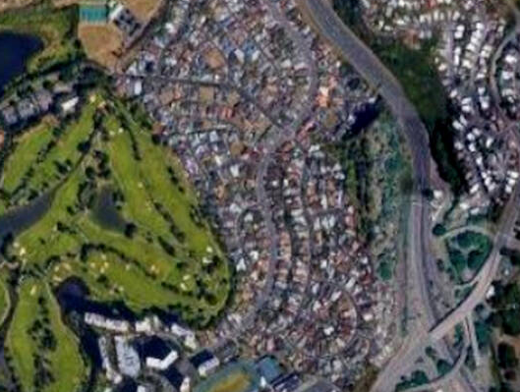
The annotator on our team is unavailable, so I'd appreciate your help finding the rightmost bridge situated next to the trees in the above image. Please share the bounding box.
[413,248,505,353]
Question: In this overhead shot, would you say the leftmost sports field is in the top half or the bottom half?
top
